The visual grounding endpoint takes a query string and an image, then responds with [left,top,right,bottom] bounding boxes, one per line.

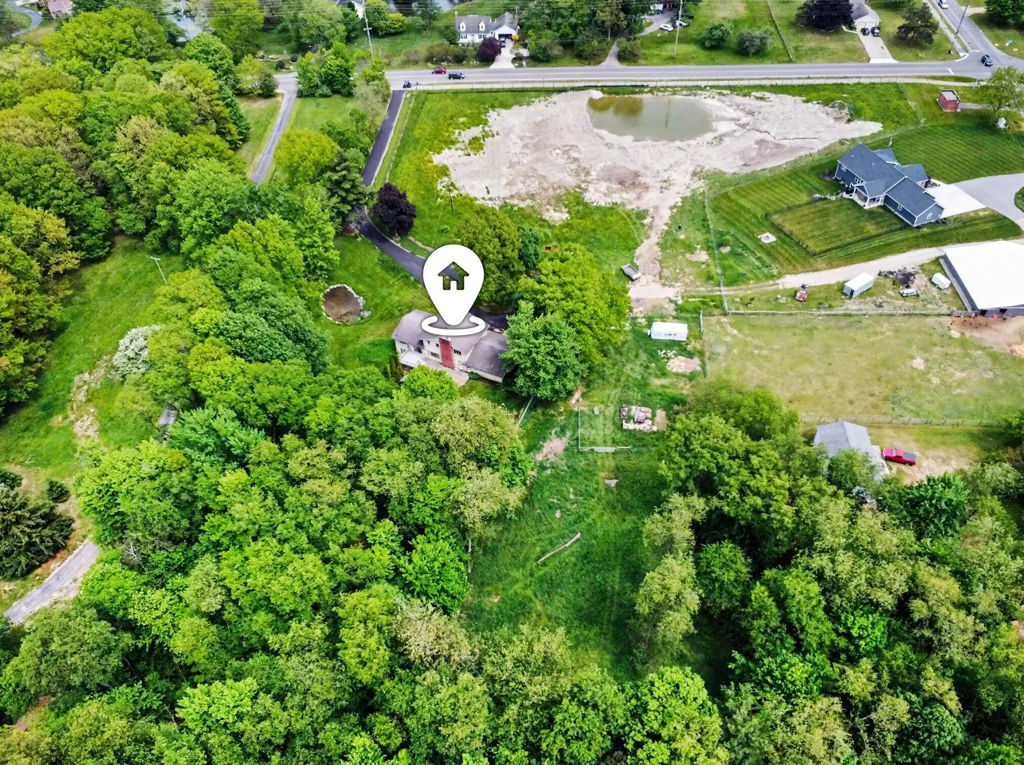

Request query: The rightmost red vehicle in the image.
[884,452,919,468]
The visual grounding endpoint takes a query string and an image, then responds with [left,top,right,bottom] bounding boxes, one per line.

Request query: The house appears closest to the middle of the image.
[390,298,519,386]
